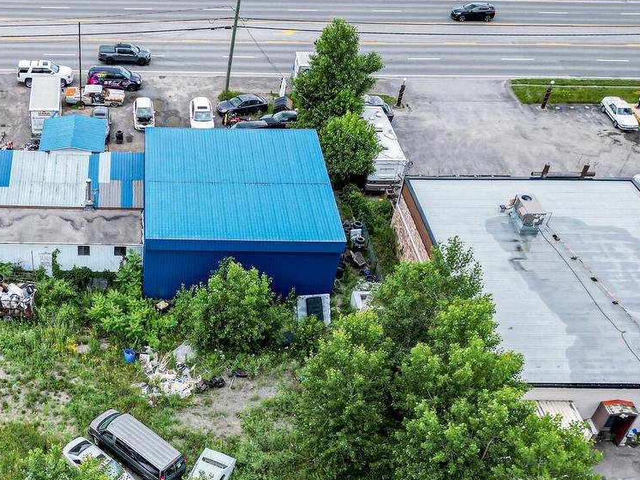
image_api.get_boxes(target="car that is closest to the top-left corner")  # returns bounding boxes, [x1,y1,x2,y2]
[14,57,76,87]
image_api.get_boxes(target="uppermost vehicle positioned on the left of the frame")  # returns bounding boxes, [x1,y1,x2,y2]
[97,40,153,65]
